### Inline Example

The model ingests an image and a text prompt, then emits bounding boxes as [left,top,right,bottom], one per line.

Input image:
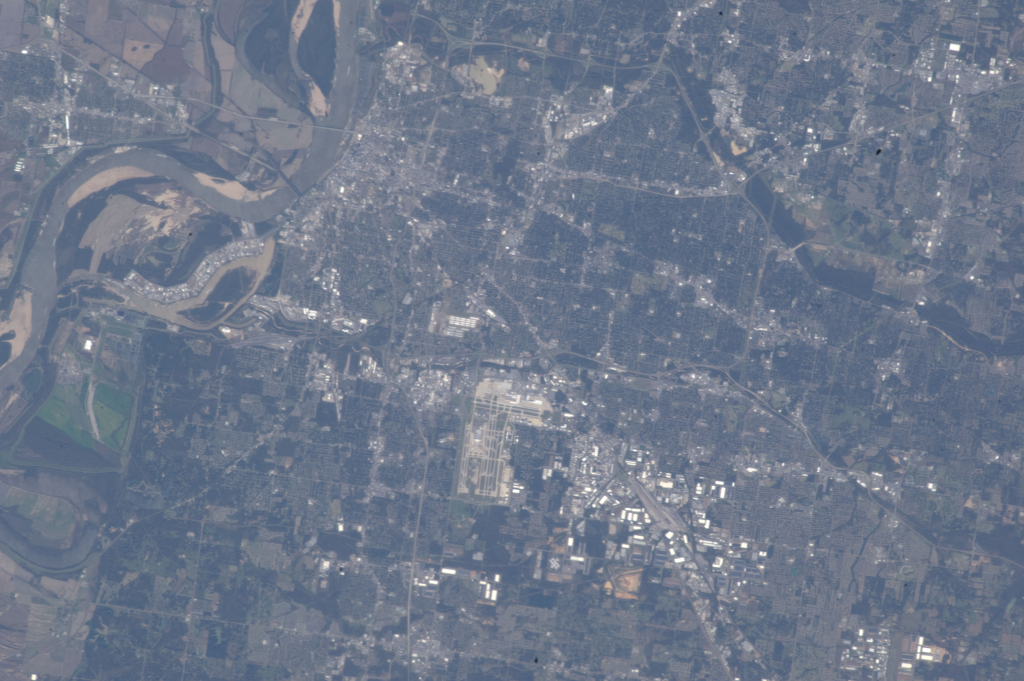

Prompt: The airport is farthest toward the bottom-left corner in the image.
[451,378,553,500]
